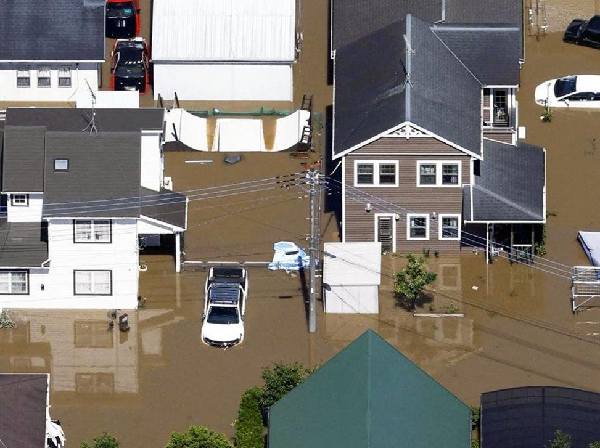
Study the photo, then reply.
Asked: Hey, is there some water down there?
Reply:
Yes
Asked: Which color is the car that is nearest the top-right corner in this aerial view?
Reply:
black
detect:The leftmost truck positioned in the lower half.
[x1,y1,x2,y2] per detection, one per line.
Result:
[200,267,250,348]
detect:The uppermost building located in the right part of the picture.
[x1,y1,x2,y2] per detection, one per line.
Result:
[328,0,547,263]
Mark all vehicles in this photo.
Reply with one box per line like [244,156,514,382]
[109,31,153,96]
[105,0,145,36]
[529,70,600,107]
[558,7,600,45]
[200,267,250,348]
